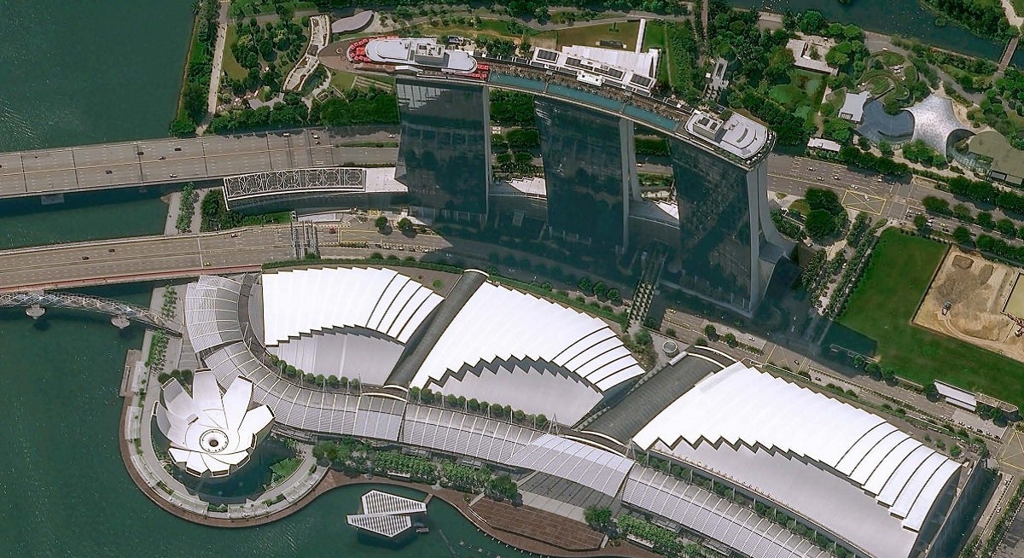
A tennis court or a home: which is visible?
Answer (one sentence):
I can see a home in this picture.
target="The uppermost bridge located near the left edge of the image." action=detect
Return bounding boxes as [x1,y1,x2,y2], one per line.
[0,124,393,198]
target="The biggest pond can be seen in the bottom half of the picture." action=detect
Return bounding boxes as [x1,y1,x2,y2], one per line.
[152,402,307,504]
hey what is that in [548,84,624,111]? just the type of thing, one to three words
swimming pool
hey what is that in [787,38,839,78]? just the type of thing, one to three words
house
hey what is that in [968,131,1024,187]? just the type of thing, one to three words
building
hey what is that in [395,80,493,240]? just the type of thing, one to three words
building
